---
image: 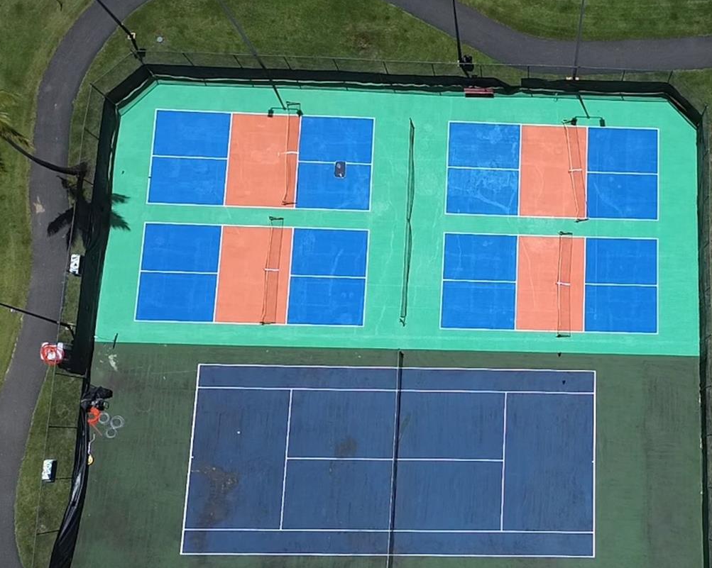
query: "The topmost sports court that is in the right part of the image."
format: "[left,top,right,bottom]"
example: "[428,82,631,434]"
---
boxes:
[446,121,659,221]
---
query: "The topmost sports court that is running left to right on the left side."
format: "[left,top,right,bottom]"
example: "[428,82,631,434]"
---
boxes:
[148,109,375,211]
